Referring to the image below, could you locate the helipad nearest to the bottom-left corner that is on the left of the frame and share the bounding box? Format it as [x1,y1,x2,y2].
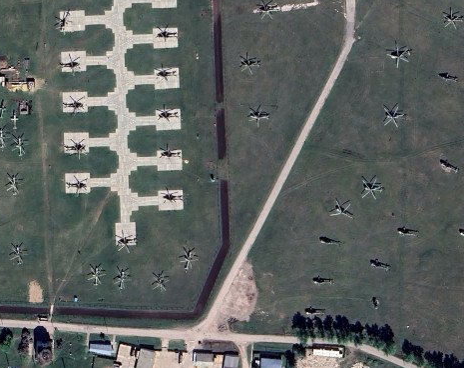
[115,223,136,245]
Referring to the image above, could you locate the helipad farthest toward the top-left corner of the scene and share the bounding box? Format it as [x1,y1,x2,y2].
[59,11,84,32]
